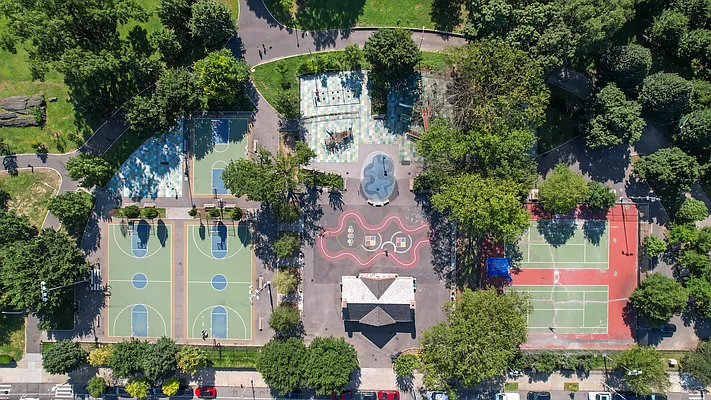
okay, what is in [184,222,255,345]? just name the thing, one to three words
basketball court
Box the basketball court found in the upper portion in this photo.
[190,115,252,198]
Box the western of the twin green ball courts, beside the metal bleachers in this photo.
[105,222,174,342]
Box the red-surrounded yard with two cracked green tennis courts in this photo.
[480,204,637,349]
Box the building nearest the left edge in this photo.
[340,267,419,329]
